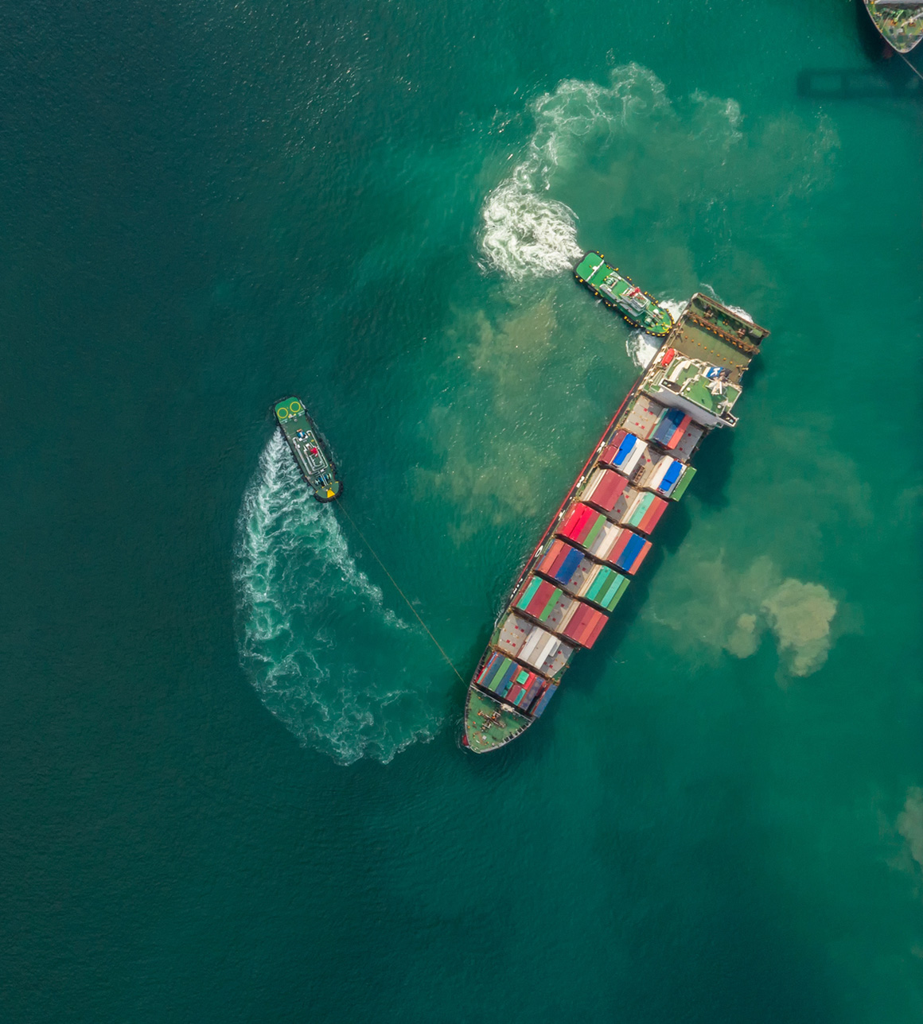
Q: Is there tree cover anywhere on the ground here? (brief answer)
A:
No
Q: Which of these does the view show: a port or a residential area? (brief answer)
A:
port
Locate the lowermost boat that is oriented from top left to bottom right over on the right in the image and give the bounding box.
[571,252,672,335]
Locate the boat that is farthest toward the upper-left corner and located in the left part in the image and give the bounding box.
[274,396,343,503]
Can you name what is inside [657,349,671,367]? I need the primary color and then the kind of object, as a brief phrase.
red boat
